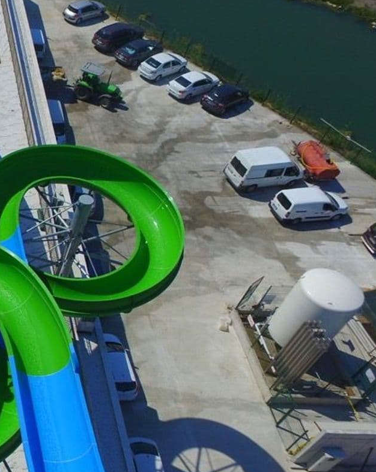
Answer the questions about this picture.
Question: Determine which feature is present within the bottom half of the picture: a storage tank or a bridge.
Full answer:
The feature located within the bottom half of the picture is a storage tank.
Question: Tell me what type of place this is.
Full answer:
This looks like a parking lot.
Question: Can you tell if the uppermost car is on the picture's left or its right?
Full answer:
You can find the uppermost car on the left side of the picture.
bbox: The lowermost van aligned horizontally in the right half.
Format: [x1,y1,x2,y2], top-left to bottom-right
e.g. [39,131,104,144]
[271,181,349,217]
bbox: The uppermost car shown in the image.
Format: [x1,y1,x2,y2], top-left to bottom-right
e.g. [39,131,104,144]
[62,0,106,20]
